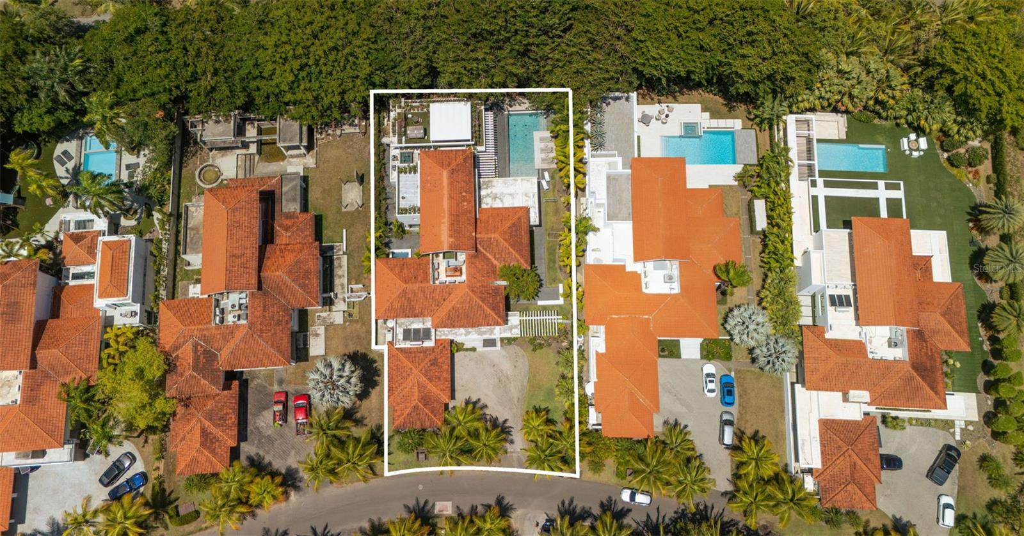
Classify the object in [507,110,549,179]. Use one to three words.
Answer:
swimming pool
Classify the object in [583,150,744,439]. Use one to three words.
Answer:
house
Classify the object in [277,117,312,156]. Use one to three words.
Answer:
building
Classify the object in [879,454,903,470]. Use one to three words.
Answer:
car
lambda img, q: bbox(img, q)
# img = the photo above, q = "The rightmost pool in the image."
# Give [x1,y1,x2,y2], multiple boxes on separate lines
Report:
[817,143,888,173]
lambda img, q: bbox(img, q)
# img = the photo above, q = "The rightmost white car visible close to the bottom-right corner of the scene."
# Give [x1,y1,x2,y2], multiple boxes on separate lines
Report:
[935,494,957,528]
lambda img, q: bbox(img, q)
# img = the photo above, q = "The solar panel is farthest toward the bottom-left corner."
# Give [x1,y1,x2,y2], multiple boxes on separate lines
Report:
[403,327,431,345]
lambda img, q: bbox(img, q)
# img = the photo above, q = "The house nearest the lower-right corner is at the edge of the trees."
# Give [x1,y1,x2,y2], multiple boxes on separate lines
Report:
[789,216,972,511]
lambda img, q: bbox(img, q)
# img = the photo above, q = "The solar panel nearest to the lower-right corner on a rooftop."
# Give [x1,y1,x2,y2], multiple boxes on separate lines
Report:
[828,294,852,311]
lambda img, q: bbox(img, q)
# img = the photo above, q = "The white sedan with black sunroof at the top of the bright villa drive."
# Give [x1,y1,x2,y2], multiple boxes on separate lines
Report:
[700,363,718,397]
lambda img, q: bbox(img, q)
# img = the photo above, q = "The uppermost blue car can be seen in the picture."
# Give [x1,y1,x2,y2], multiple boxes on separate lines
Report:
[718,375,735,407]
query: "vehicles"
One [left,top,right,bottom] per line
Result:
[879,454,903,470]
[927,444,957,488]
[718,411,736,447]
[100,453,136,487]
[14,464,45,477]
[618,487,653,506]
[292,396,311,438]
[700,363,718,397]
[110,473,148,499]
[935,494,957,528]
[718,375,735,407]
[272,391,289,427]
